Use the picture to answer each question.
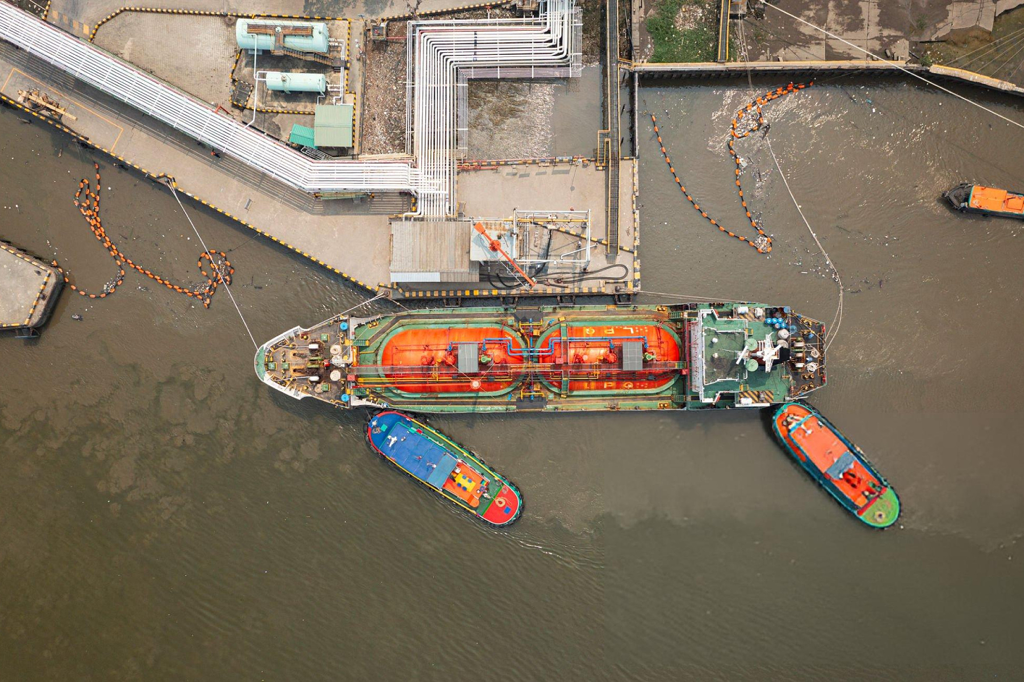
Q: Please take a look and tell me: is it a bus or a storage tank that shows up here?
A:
storage tank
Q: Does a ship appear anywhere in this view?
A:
Yes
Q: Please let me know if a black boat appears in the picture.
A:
No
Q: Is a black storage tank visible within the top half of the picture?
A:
No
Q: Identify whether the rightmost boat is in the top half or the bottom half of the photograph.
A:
top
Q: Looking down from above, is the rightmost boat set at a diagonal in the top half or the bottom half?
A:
bottom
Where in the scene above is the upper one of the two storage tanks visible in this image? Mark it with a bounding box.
[236,19,348,72]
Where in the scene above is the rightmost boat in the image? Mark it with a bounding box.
[938,179,1024,222]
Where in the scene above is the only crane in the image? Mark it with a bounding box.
[471,218,538,293]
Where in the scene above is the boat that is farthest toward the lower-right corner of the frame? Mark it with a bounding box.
[772,396,904,532]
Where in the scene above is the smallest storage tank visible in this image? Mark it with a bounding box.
[258,69,328,104]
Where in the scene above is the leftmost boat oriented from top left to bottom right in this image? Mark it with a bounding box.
[364,409,521,530]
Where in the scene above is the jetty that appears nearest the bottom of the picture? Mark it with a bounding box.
[0,236,69,333]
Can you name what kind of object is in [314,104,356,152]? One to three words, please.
shed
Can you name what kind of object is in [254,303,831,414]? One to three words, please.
ship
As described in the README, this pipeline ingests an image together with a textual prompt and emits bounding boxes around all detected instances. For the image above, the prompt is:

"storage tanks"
[236,19,348,72]
[258,69,328,104]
